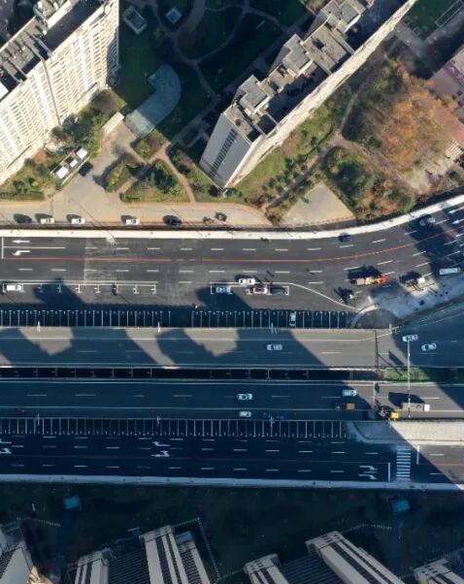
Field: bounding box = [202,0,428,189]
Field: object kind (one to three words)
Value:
building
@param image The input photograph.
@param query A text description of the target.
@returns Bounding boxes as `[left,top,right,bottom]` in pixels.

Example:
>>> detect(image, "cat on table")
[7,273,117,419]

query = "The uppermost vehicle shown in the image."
[79,162,92,177]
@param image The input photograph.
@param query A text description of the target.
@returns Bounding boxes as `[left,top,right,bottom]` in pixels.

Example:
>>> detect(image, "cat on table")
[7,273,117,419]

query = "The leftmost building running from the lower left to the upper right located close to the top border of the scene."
[0,0,149,177]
